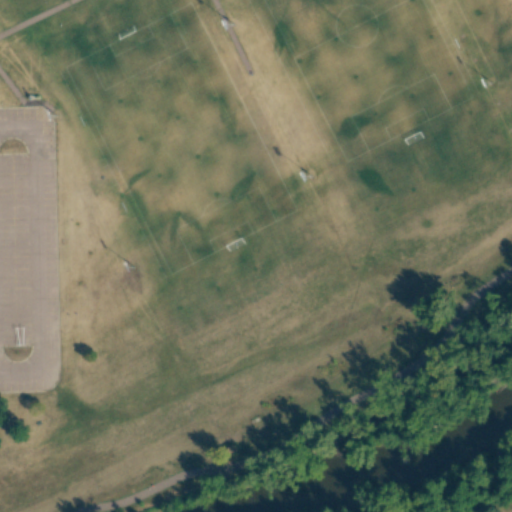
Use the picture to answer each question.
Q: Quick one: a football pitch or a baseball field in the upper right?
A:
football pitch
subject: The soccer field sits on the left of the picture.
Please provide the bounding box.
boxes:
[68,4,296,274]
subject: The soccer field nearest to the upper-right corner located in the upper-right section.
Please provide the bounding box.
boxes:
[457,0,512,109]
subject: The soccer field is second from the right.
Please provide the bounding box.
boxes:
[269,0,476,161]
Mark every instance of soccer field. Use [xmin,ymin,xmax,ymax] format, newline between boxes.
[68,4,296,274]
[457,0,512,109]
[269,0,476,161]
